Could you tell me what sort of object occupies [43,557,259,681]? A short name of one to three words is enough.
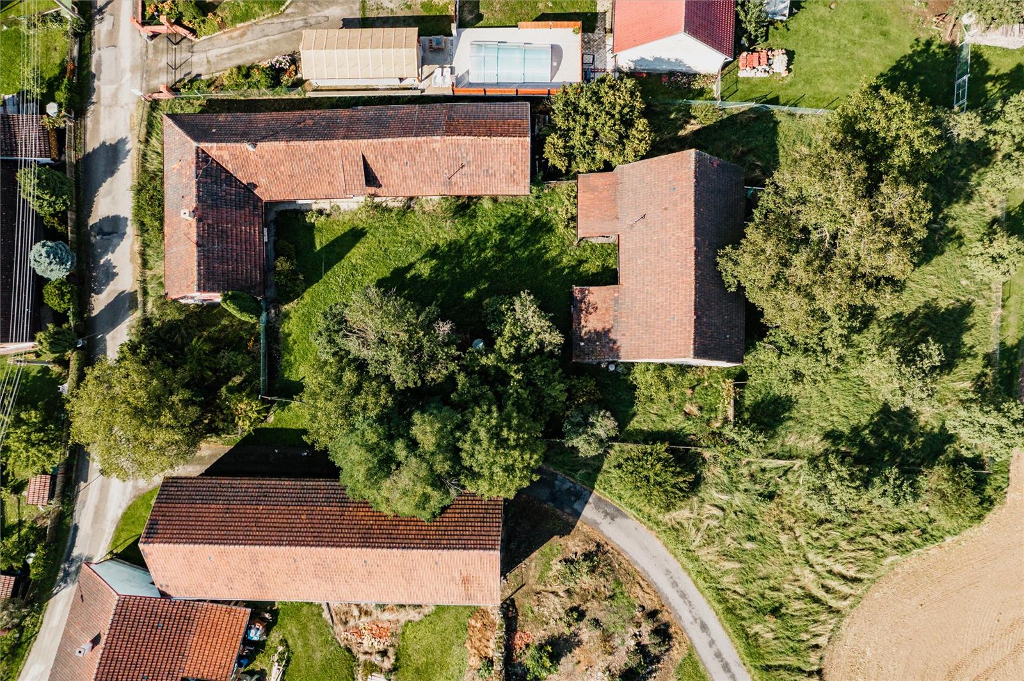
house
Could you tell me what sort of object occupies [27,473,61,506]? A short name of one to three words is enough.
shed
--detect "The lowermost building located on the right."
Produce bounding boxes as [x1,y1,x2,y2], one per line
[571,149,745,368]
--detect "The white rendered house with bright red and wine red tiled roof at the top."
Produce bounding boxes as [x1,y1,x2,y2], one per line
[611,0,735,75]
